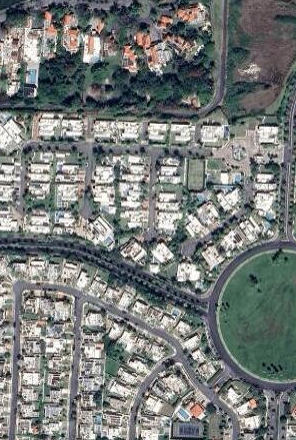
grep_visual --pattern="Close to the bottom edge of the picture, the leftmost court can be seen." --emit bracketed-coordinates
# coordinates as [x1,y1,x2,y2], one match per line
[173,421,205,440]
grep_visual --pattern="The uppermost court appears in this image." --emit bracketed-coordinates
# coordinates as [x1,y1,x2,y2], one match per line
[188,159,204,190]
